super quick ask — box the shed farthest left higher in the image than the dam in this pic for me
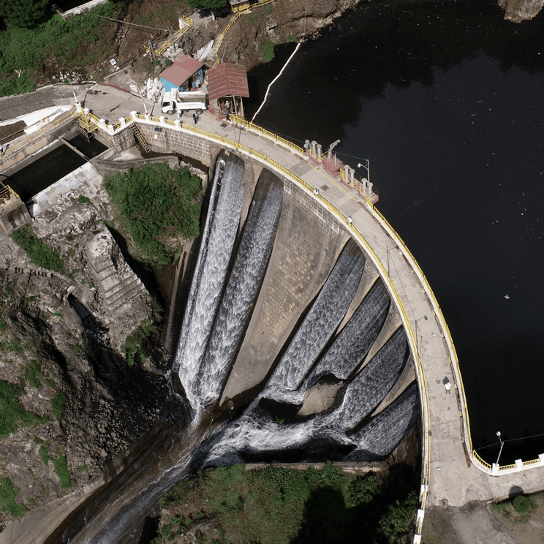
[159,55,205,93]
